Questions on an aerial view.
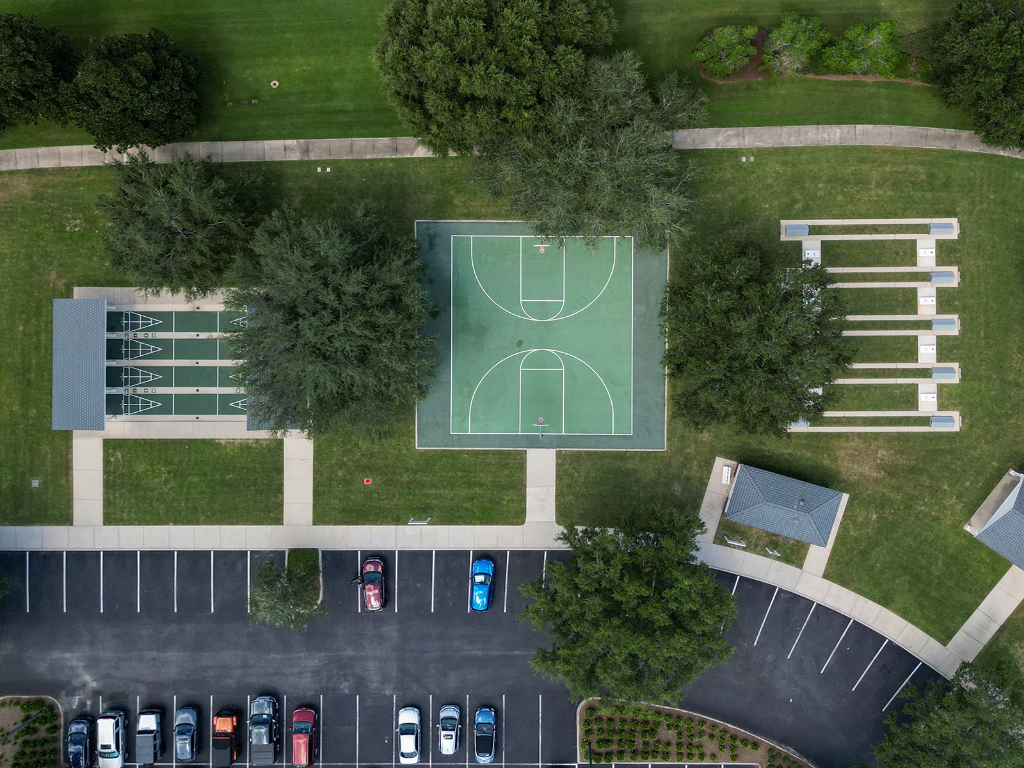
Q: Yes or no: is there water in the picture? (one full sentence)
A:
No, water can't be seen anywhere here.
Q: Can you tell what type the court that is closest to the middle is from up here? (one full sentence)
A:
The court that is closest to the middle appears to be a basketball court.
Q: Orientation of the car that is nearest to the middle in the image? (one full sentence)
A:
From this overhead view, the car that is nearest to the middle appears to run up and down.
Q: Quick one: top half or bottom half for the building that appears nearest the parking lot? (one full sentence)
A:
The bottom half of the photo is where the building that appears nearest the parking lot is.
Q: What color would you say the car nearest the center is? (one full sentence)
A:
The color of the car nearest the center is blue.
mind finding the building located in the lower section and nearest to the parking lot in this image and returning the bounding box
[723,463,844,548]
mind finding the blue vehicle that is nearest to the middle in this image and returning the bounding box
[470,561,495,613]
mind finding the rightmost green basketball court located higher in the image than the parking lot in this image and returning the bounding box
[415,221,668,450]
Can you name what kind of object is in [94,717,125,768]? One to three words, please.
car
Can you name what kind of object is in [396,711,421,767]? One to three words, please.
car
